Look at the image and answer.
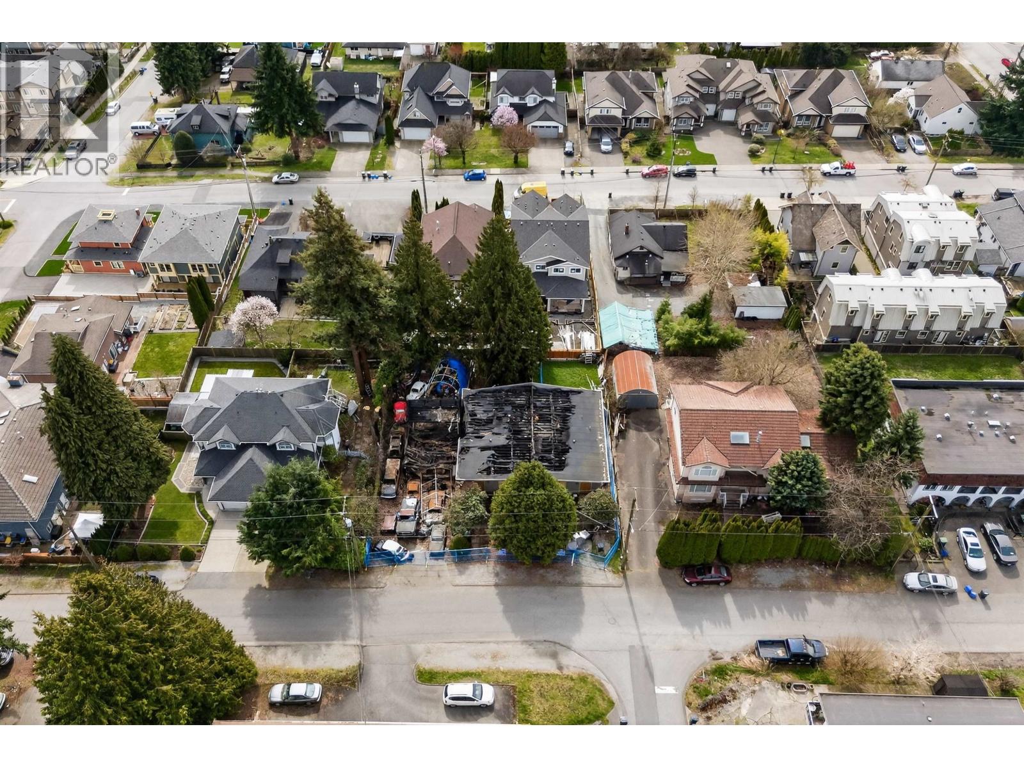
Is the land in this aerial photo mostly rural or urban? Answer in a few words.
urban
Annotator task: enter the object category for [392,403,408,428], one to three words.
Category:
car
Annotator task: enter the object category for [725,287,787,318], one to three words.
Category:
shed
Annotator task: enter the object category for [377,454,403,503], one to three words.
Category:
vehicle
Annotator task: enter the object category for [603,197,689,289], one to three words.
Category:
house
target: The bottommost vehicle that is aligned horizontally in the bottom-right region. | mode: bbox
[758,639,827,667]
